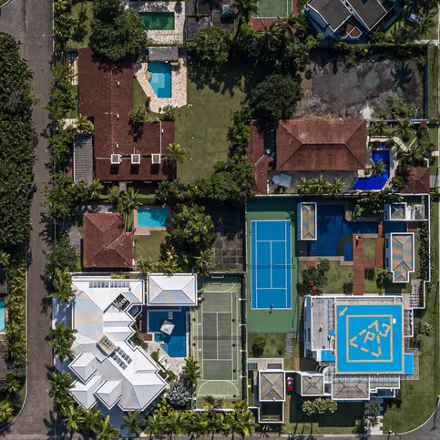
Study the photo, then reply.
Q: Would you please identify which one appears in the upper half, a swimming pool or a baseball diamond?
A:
swimming pool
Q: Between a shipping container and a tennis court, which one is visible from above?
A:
tennis court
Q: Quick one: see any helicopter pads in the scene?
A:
Yes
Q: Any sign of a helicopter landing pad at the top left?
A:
No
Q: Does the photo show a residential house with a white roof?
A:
Yes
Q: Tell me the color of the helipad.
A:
blue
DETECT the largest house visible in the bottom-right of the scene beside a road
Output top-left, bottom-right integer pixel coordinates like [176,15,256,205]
[297,295,419,400]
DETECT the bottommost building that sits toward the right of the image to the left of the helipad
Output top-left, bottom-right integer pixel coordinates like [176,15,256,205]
[245,357,285,402]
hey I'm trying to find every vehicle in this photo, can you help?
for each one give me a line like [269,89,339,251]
[405,13,421,22]
[286,376,295,392]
